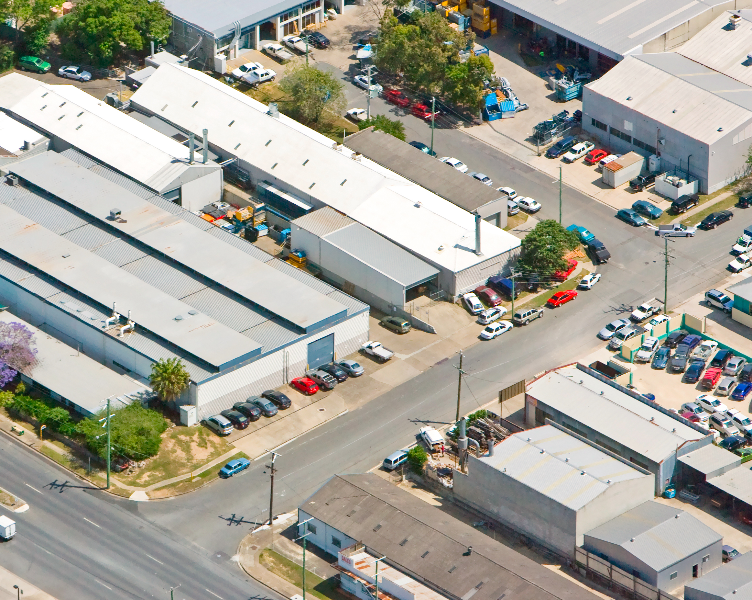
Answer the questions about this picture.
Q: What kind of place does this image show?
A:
industrial area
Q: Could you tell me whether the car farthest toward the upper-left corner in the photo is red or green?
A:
green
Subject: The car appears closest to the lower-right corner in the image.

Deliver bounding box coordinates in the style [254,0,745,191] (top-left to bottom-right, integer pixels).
[720,541,744,560]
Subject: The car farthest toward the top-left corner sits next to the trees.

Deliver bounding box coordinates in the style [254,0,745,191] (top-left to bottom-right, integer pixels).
[20,53,48,74]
